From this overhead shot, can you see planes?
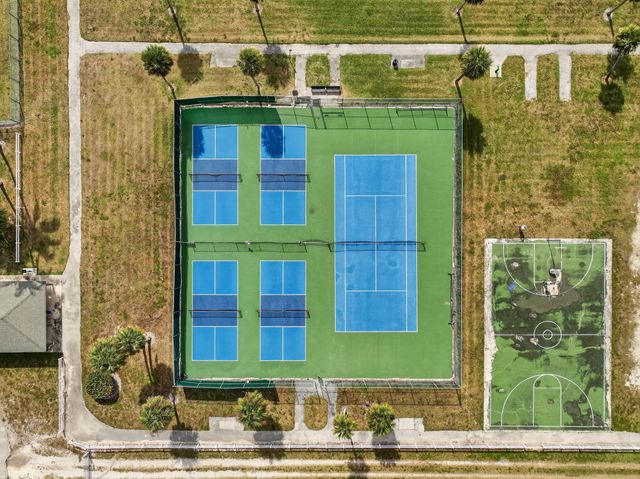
No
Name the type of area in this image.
sports ground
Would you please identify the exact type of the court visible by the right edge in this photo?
basketball court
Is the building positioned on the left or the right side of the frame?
left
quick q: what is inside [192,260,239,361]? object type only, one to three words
sports court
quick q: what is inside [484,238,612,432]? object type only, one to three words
basketball court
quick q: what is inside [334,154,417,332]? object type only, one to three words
tennis court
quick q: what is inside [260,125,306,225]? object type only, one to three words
sports court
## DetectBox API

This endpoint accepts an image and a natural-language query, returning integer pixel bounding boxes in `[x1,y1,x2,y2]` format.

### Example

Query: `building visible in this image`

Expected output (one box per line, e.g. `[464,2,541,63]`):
[0,281,49,353]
